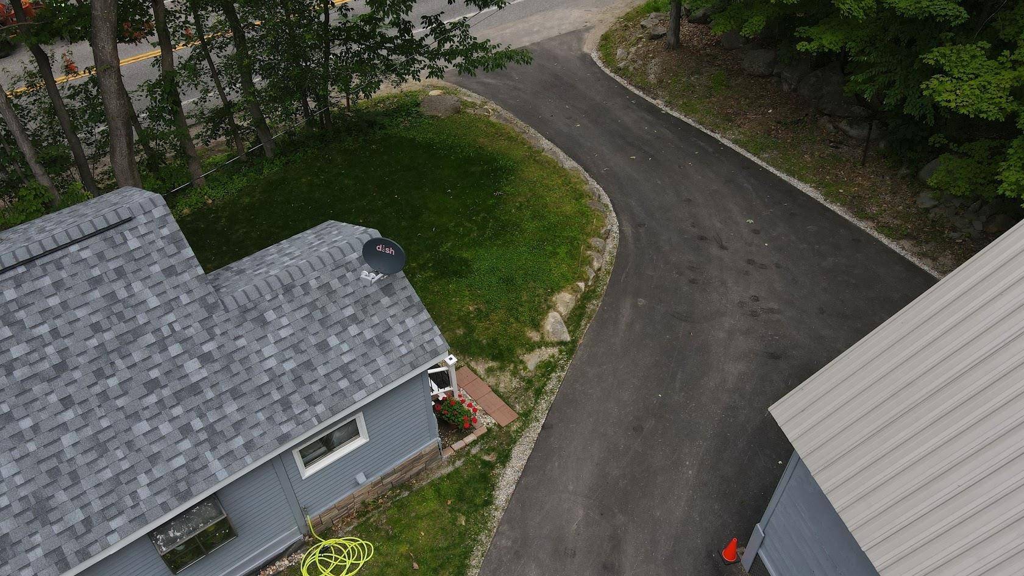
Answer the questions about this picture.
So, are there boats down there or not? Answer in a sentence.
No, no boat is visible in the view.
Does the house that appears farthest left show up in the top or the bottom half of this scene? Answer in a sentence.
Seen from above, the house that appears farthest left lies in the bottom half of the view.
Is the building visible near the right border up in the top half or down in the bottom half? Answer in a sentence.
You can find the building visible near the right border in the bottom half.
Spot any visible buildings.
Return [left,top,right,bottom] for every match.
[742,216,1024,576]
[0,186,452,576]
